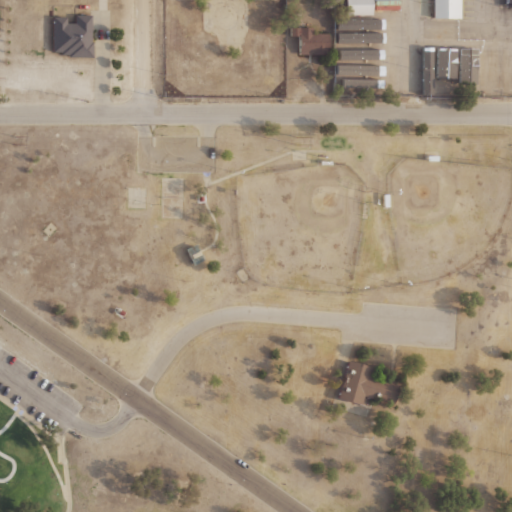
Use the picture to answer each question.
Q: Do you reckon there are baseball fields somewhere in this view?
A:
Yes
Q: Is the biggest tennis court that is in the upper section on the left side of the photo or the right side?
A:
left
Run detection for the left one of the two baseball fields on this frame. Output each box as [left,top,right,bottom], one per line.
[240,166,362,286]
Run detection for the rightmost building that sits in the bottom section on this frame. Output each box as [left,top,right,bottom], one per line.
[340,362,402,408]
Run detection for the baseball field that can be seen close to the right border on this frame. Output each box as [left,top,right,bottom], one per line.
[394,162,508,278]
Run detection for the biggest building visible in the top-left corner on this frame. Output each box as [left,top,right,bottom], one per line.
[53,15,94,58]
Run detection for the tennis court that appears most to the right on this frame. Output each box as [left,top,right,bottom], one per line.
[162,178,183,217]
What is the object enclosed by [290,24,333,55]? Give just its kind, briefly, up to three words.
house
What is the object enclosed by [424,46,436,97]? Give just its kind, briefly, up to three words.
building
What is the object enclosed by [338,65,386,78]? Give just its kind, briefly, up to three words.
building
